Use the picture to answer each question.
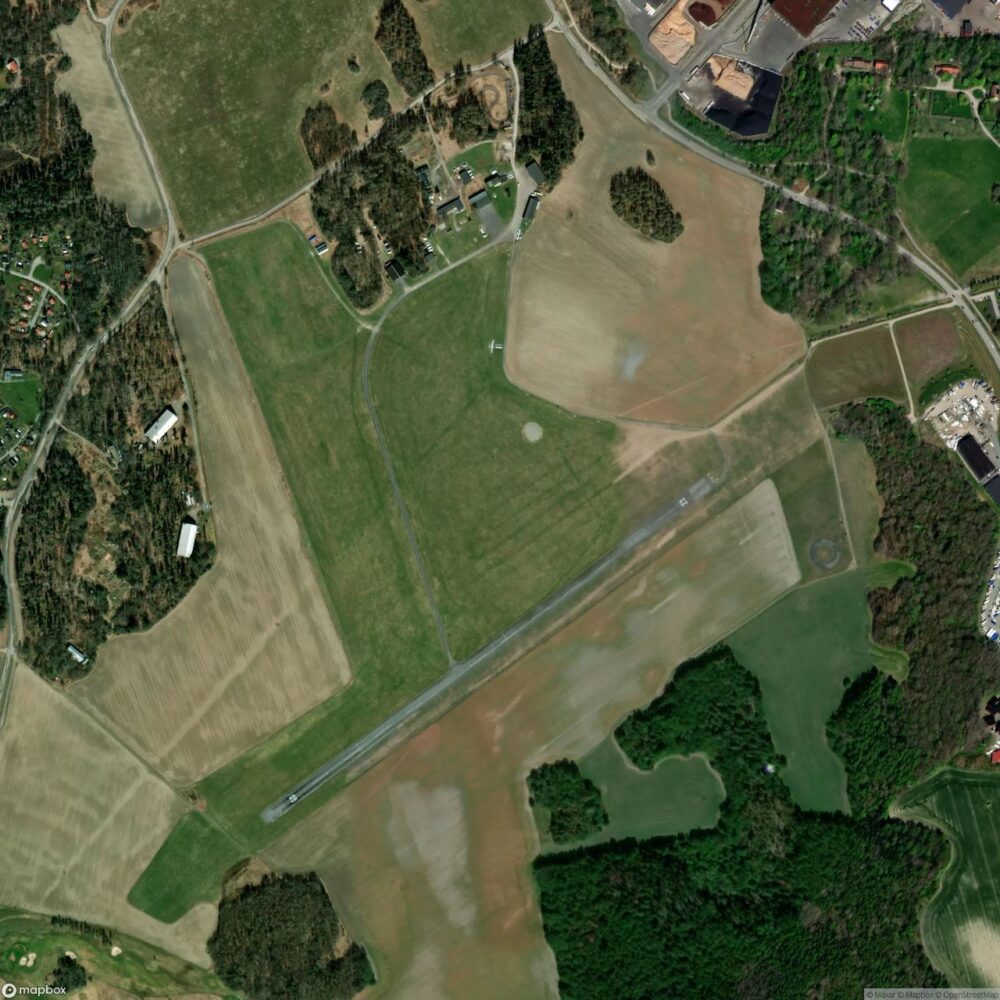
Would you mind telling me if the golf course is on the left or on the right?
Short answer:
left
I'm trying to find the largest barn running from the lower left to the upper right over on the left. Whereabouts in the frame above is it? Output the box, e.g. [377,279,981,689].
[145,409,178,443]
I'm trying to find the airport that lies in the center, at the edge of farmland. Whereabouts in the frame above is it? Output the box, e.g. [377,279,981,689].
[192,204,855,860]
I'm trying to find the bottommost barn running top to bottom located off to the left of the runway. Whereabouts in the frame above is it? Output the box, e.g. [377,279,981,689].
[177,522,196,558]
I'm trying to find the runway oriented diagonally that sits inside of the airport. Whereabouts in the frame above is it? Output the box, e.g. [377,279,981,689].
[264,472,722,820]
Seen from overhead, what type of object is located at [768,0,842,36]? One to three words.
building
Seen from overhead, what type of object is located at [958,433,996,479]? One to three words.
building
